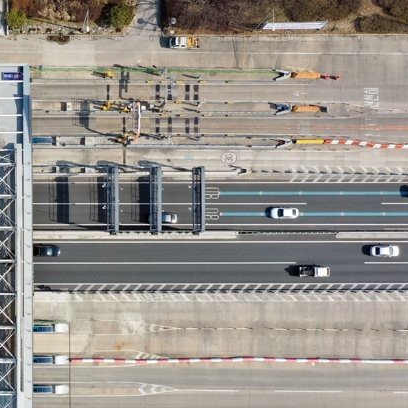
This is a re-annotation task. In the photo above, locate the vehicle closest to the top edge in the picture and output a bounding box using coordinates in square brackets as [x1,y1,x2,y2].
[170,34,200,49]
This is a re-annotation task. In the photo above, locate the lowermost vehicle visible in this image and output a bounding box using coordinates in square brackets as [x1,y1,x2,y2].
[299,264,330,278]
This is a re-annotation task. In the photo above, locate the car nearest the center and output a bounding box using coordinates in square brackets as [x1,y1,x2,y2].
[161,212,178,224]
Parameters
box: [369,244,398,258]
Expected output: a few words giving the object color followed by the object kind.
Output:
white car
